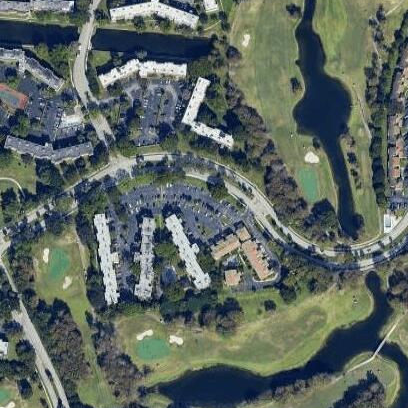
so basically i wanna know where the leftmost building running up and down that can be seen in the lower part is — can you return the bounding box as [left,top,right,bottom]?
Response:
[93,214,119,305]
